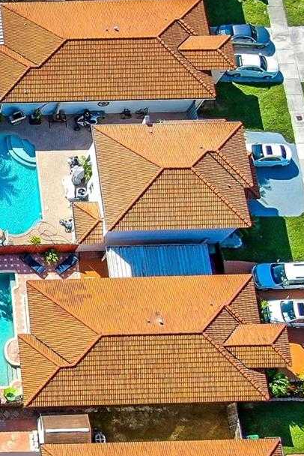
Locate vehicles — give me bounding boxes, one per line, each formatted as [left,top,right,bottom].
[265,298,304,328]
[214,22,270,49]
[251,261,304,292]
[237,141,296,169]
[224,55,282,82]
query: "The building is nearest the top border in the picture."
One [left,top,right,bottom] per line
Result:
[0,0,233,115]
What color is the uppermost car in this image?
blue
